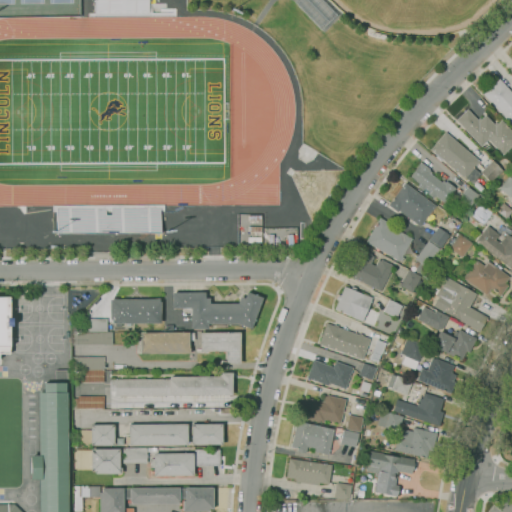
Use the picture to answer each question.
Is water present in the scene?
No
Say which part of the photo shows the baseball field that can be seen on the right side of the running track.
top right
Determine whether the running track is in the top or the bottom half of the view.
top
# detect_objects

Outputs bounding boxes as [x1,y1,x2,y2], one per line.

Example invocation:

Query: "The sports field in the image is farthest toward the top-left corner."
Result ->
[0,39,230,184]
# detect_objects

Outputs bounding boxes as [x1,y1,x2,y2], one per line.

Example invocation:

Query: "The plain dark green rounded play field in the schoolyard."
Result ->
[0,378,23,488]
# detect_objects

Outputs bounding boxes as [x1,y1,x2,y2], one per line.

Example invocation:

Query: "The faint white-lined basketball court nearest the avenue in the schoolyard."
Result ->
[19,296,66,322]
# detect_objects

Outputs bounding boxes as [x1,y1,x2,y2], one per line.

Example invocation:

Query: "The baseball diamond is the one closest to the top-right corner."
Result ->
[332,0,494,36]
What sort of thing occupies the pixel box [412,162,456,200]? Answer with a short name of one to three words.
house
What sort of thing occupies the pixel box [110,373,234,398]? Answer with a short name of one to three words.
building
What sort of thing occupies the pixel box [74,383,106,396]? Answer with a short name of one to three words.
building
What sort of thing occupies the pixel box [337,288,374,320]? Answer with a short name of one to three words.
house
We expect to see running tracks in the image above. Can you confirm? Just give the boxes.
[0,17,299,205]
